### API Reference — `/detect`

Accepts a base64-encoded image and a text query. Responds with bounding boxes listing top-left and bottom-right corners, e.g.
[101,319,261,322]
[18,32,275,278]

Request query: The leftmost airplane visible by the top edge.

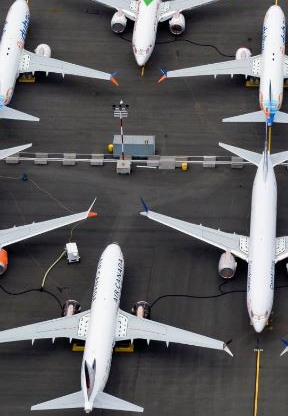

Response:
[0,2,119,122]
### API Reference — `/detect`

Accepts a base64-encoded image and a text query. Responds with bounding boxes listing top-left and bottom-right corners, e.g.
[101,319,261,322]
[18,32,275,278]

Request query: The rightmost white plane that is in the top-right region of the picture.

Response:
[157,6,288,129]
